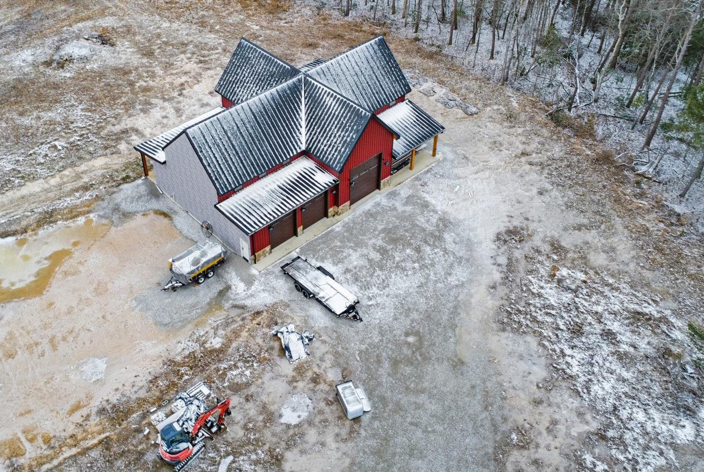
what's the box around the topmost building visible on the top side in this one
[133,36,445,266]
